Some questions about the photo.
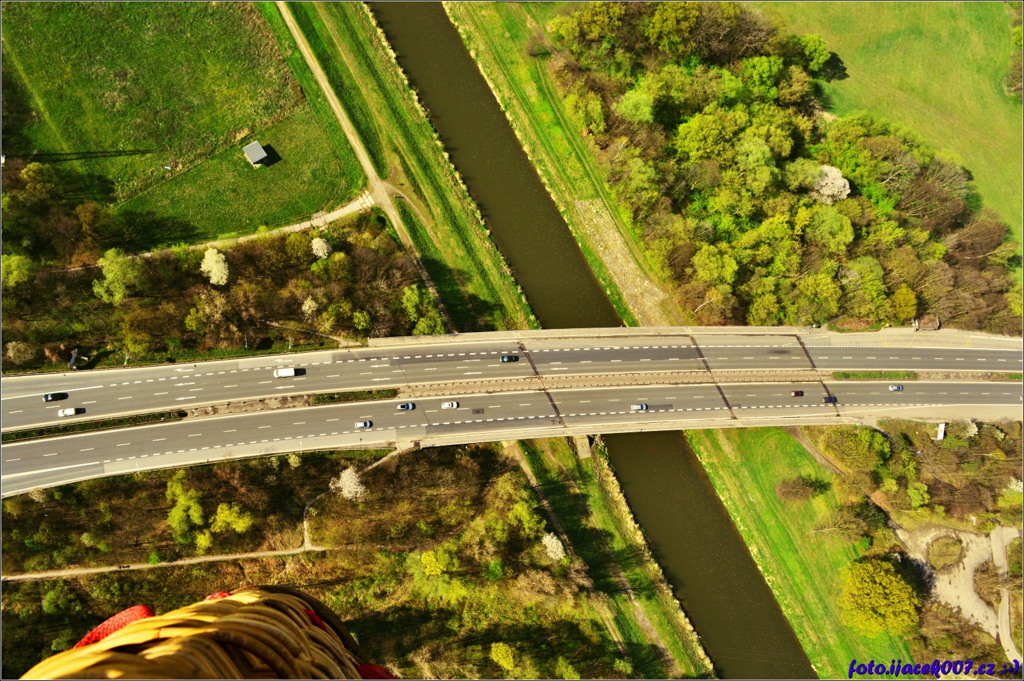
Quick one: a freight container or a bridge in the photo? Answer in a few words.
bridge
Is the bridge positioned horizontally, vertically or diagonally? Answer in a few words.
horizontally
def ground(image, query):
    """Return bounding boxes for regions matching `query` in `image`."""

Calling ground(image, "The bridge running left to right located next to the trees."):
[366,325,861,459]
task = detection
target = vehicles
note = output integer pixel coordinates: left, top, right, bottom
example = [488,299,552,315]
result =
[44,393,64,403]
[501,356,517,364]
[791,392,804,398]
[631,405,646,412]
[354,421,370,429]
[441,403,457,410]
[58,408,77,419]
[396,404,413,412]
[274,367,296,378]
[822,398,836,404]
